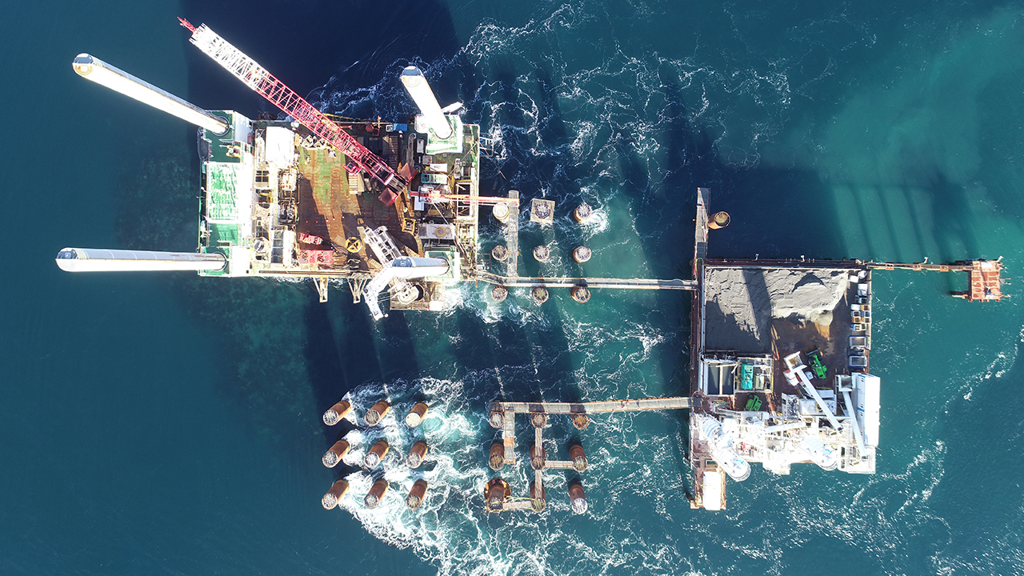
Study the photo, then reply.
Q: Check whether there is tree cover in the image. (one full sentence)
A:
No, no tree cover is visible.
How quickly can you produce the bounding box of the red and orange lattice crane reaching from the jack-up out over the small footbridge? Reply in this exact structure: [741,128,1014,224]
[408,185,524,224]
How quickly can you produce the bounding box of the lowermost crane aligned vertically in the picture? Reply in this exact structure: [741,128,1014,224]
[361,221,401,321]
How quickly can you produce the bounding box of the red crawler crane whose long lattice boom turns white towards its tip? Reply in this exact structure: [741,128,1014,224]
[178,16,424,212]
